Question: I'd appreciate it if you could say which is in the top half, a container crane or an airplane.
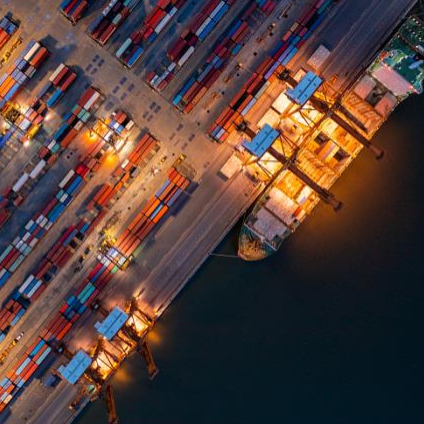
container crane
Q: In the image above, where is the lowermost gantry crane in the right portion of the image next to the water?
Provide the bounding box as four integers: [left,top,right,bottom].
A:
[231,119,351,221]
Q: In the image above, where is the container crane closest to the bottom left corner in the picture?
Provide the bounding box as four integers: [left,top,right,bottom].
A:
[52,332,126,424]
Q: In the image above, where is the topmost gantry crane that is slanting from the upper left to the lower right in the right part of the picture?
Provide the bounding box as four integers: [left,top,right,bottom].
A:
[273,68,393,169]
